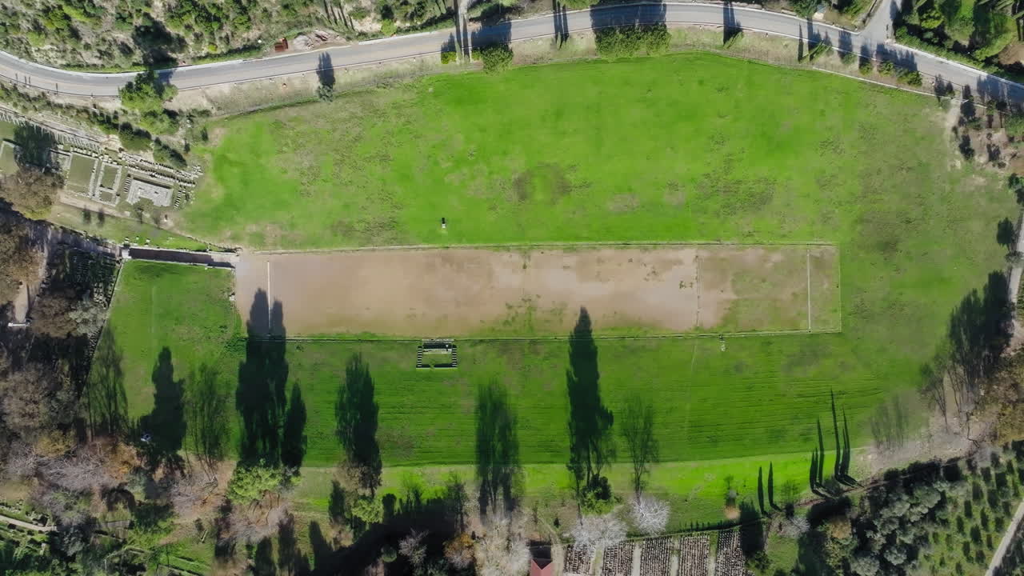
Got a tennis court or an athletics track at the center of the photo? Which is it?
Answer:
athletics track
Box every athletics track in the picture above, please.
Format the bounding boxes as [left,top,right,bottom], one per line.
[243,244,840,339]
